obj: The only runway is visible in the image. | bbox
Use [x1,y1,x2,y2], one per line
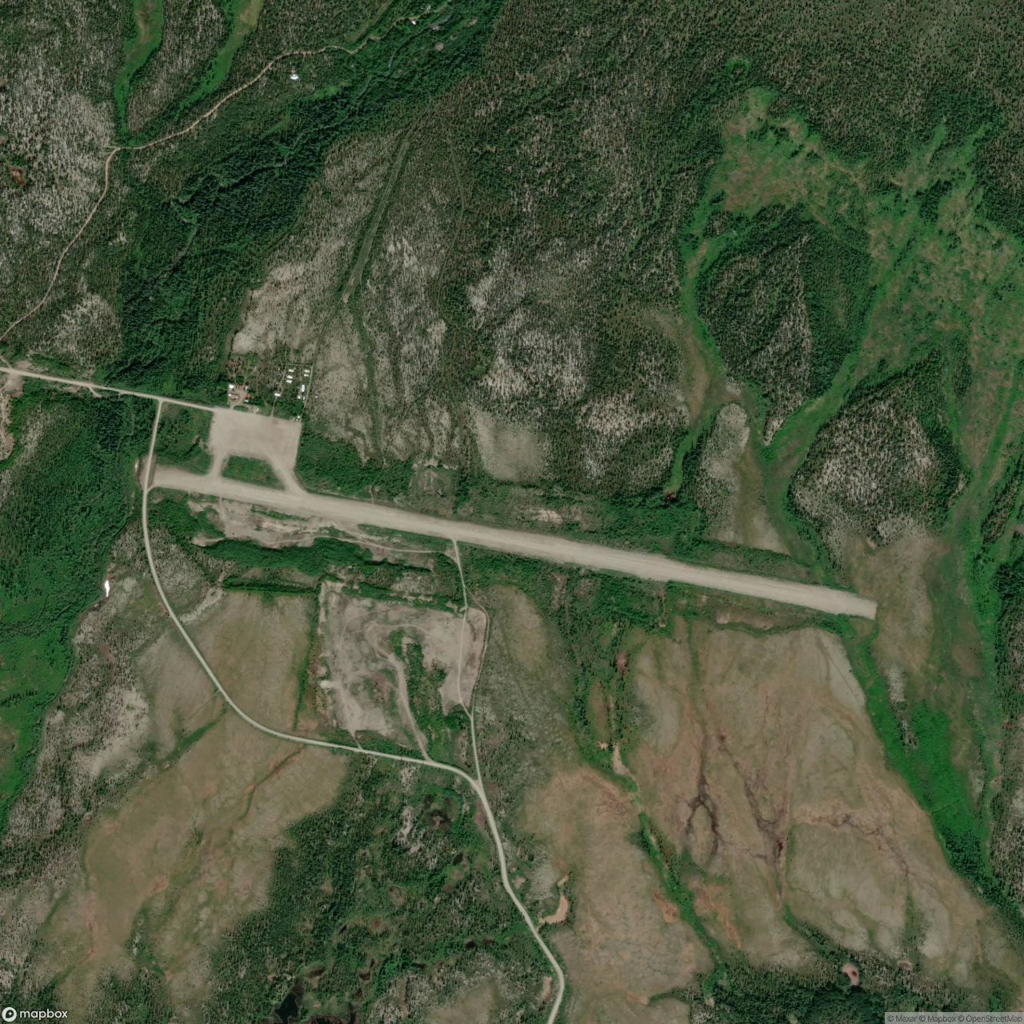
[151,410,878,618]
